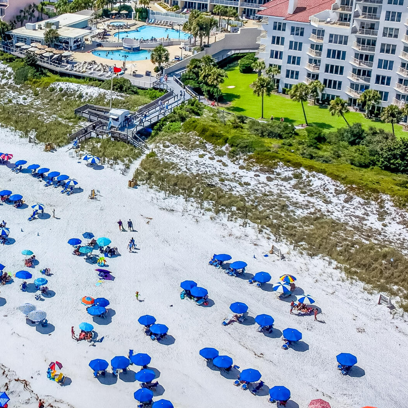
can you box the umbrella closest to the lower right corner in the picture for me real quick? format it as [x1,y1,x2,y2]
[336,355,357,370]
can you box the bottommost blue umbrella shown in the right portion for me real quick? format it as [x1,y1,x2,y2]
[268,388,292,402]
